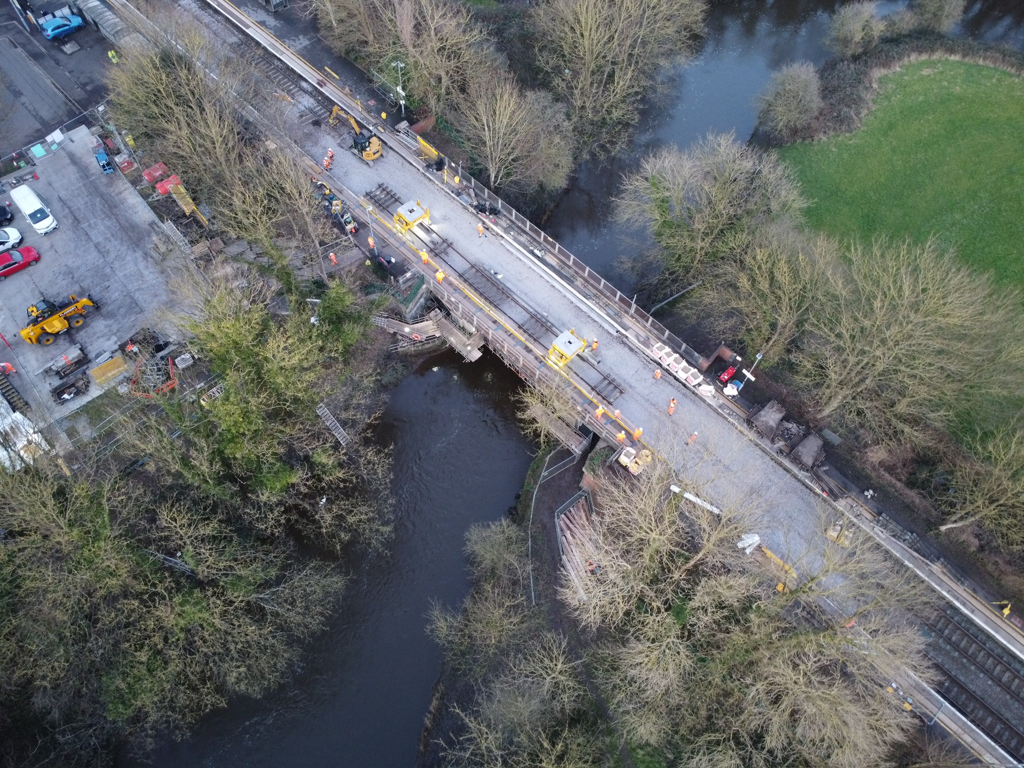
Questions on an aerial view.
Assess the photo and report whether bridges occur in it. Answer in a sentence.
Yes, a bridge can be made out from above.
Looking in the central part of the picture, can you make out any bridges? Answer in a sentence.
Yes, in the central part of the picture there is a bridge.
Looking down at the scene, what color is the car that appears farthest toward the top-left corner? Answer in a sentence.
From above, the car that appears farthest toward the top-left corner appears blue.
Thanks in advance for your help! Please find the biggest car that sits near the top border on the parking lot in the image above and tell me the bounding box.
[36,15,84,39]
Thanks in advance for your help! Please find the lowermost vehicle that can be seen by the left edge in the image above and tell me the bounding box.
[14,285,117,343]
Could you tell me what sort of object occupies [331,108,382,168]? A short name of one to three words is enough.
work vehicle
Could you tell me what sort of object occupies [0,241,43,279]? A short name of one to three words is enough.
car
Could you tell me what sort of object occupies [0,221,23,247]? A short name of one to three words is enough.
car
